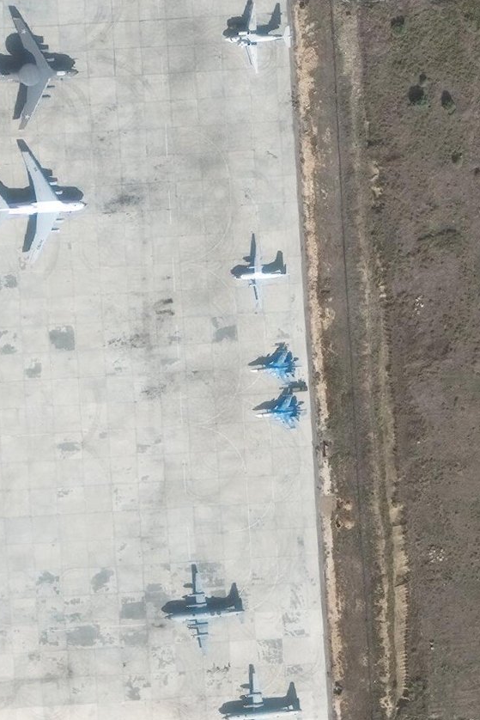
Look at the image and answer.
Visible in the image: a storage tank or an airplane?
airplane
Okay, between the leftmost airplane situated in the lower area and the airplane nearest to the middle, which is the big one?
the leftmost airplane situated in the lower area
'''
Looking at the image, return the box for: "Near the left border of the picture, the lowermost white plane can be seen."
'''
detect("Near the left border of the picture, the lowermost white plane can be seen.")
[0,153,88,264]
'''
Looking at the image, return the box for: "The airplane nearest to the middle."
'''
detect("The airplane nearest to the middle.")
[251,350,300,384]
